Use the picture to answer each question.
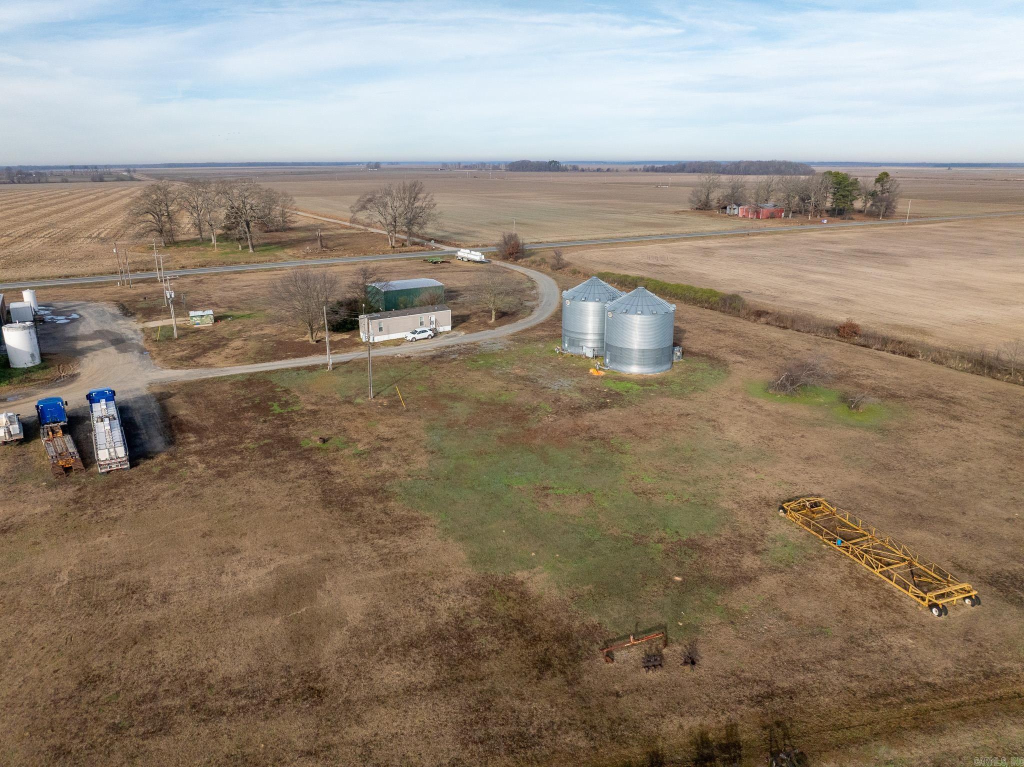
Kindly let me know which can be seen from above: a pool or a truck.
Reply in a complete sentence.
Of the two, only a truck appears.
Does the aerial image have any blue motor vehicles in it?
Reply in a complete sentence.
Yes, I can see a blue motor vehicle in this picture.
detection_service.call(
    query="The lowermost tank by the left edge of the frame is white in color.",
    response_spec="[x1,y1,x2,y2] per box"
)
[0,319,46,369]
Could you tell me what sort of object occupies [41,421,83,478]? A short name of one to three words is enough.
trailer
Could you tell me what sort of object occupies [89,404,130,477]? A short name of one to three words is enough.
trailer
